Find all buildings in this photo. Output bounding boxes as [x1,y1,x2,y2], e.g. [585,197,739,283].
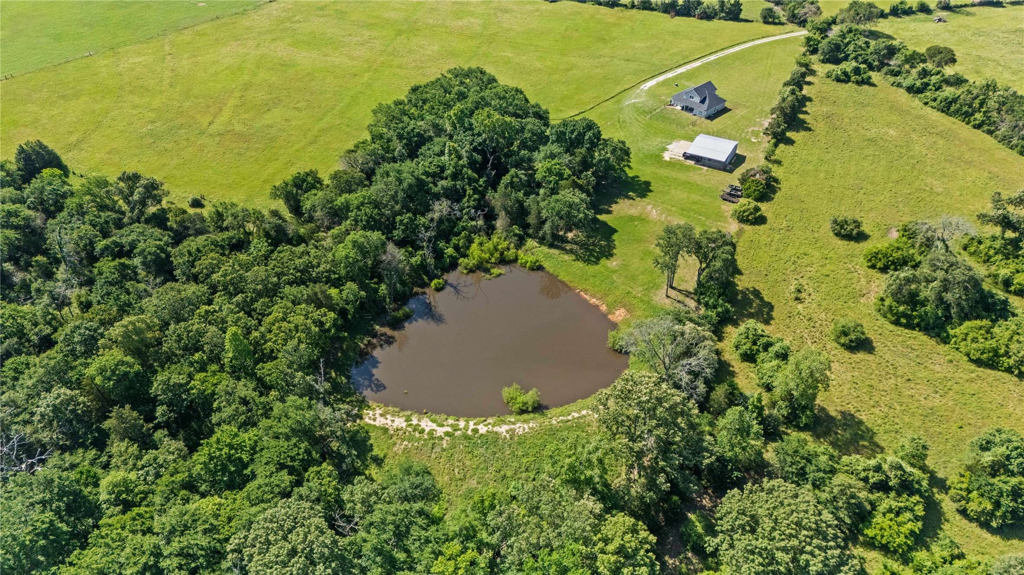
[685,133,738,170]
[670,82,729,118]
